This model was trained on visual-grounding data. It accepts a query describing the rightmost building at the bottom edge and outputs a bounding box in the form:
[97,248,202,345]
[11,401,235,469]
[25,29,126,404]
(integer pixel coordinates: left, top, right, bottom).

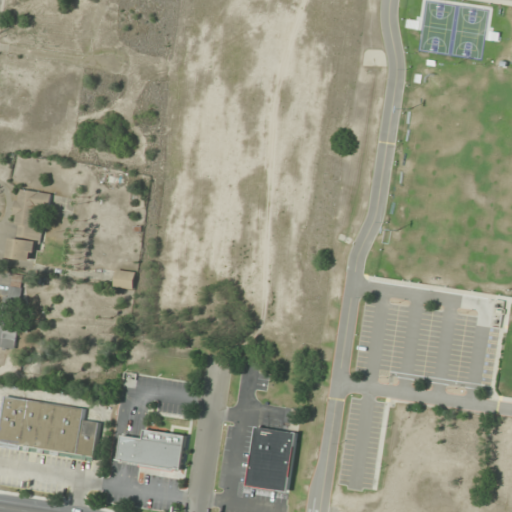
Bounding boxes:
[244,427,297,490]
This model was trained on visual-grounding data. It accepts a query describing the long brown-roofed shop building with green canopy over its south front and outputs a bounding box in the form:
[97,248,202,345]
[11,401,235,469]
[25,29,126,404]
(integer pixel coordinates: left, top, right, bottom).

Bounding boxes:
[0,396,102,460]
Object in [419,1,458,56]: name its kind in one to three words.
basketball court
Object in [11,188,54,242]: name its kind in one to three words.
house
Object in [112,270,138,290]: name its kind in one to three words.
barn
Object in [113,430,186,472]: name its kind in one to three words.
building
